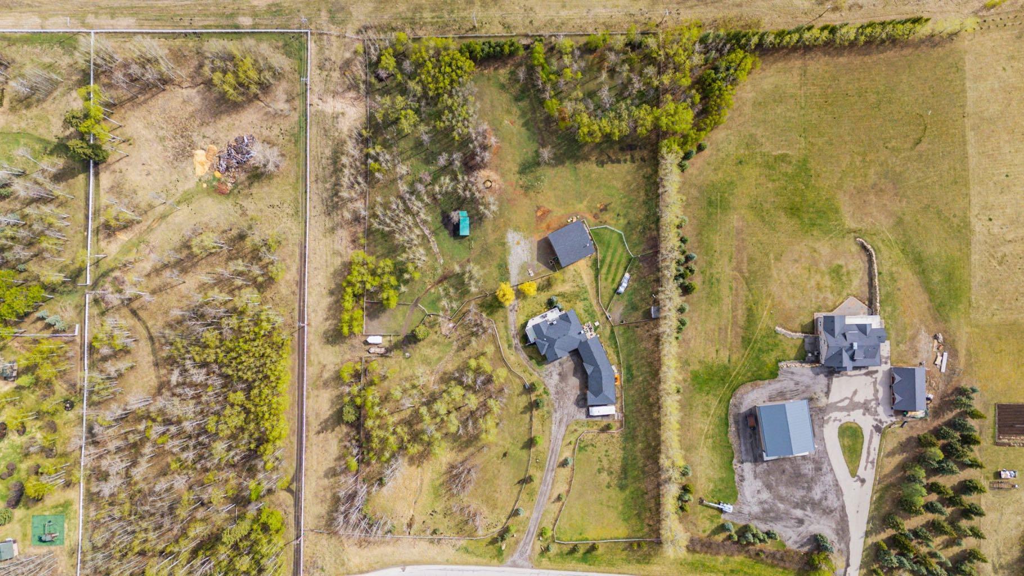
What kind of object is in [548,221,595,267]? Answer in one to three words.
building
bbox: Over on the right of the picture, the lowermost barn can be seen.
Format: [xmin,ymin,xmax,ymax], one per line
[754,399,816,461]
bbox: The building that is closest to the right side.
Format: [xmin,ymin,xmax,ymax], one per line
[887,366,926,411]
